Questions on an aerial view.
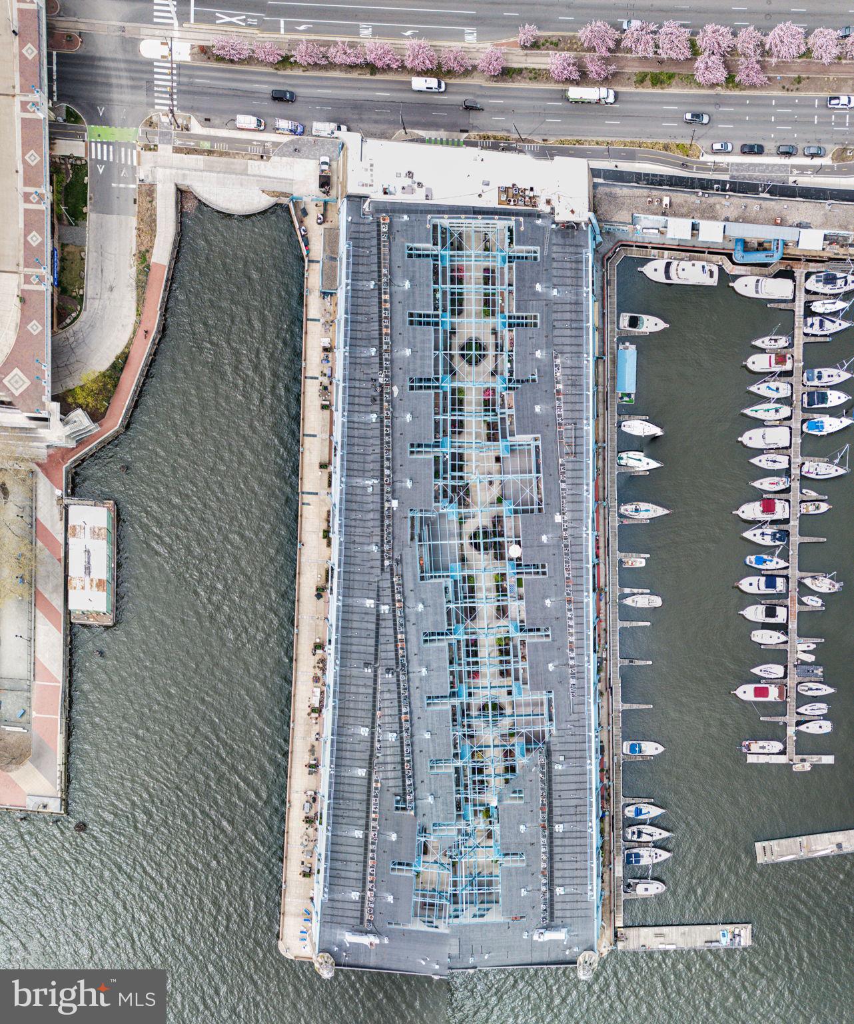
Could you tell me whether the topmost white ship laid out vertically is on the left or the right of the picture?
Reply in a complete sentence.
The topmost white ship laid out vertically appears in the left half of the scene.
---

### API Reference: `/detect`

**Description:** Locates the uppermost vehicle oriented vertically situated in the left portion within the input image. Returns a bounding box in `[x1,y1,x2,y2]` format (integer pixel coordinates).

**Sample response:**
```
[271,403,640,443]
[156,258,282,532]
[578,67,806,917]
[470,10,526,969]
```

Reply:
[317,154,330,196]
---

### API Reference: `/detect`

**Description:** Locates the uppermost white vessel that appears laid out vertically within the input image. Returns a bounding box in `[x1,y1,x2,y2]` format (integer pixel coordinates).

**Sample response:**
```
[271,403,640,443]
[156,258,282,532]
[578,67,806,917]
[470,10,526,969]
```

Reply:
[63,495,118,626]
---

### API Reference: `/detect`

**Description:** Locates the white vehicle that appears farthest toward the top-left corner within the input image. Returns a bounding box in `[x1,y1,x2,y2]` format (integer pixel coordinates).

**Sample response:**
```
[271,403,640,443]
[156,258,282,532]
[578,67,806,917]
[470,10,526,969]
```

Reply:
[233,111,264,128]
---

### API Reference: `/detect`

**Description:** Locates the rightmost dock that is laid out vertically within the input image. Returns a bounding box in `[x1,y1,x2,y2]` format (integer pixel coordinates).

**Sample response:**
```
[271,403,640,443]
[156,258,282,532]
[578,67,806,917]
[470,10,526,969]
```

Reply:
[785,268,808,764]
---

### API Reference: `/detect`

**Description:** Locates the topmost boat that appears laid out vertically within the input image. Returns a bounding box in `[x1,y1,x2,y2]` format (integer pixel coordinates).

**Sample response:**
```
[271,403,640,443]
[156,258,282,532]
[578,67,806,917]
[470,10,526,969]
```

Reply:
[618,340,639,403]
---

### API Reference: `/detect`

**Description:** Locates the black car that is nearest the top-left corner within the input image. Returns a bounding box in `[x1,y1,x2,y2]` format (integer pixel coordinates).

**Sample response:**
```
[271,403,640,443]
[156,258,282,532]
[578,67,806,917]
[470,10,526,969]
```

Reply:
[270,87,294,101]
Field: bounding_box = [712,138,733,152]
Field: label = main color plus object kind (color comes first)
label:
white car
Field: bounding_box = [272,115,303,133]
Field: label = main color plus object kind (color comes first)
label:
white vehicle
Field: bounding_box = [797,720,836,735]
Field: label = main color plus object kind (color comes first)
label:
white boat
